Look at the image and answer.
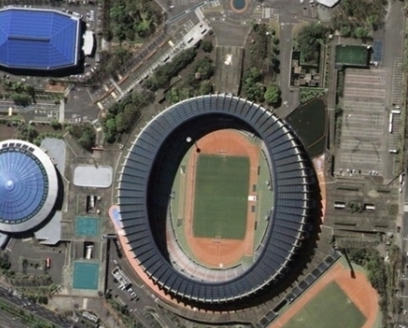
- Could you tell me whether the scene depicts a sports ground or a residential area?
sports ground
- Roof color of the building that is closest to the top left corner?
blue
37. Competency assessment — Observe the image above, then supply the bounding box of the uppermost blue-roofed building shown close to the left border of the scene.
[0,7,78,70]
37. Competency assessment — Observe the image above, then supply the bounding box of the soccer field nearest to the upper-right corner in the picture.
[334,42,373,69]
